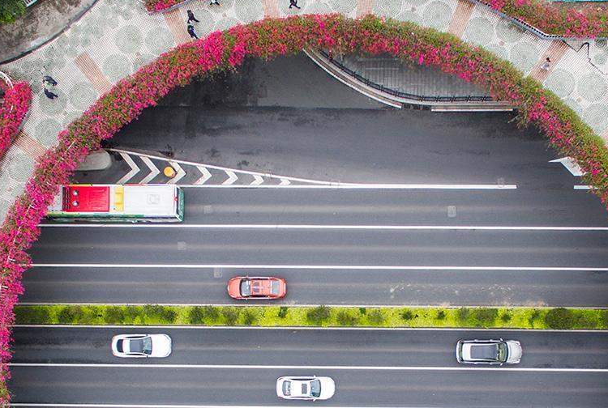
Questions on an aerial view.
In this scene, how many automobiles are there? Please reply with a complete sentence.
My tally gives 4 automobiles in this view.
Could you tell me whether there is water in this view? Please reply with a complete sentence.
No, there's no water in this view.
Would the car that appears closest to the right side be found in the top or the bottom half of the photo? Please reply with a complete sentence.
The car that appears closest to the right side is in the bottom half of the image.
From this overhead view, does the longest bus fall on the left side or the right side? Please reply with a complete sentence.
The longest bus sits on the left side.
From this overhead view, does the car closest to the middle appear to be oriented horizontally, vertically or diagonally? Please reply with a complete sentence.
The car closest to the middle runs horizontally in the image.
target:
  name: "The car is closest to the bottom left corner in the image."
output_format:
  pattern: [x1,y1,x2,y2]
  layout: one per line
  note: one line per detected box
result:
[112,332,172,359]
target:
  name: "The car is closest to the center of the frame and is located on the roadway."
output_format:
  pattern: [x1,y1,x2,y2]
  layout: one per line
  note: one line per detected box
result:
[229,274,286,301]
